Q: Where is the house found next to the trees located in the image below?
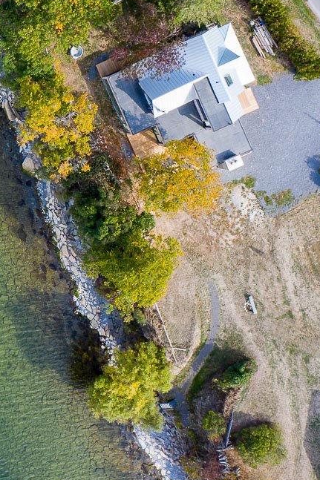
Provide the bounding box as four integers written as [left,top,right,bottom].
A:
[95,23,260,172]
